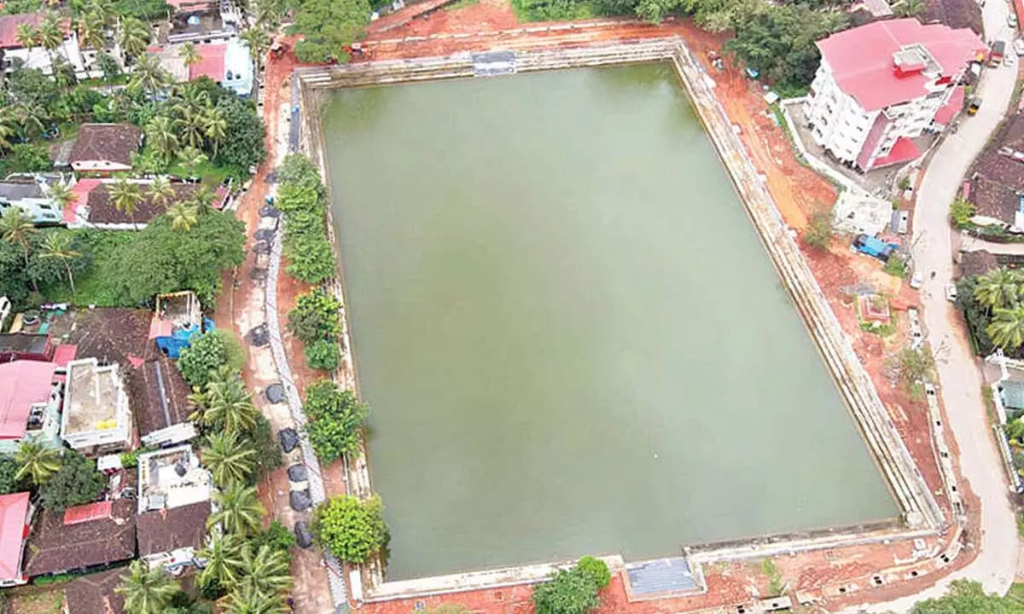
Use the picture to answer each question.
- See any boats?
No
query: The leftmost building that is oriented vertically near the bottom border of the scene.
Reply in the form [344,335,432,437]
[0,493,44,591]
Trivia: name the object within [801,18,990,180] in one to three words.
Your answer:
building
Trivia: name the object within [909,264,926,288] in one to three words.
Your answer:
car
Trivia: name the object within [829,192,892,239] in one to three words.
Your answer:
building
